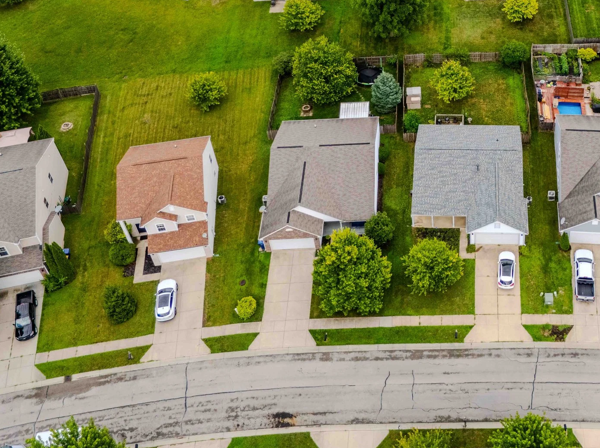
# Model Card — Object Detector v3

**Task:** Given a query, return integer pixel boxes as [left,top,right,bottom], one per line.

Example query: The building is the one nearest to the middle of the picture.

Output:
[258,119,378,257]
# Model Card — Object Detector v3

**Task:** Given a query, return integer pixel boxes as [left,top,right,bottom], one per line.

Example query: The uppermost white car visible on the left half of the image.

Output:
[154,281,180,322]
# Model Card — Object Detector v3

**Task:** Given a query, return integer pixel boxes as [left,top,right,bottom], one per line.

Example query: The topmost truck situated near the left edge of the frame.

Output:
[12,287,40,344]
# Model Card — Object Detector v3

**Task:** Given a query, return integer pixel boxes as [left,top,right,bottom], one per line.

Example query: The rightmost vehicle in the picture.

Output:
[574,250,596,302]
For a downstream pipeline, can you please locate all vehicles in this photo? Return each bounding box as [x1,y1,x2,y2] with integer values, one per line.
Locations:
[496,251,517,291]
[33,427,59,448]
[154,281,180,322]
[574,250,596,302]
[12,287,40,344]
